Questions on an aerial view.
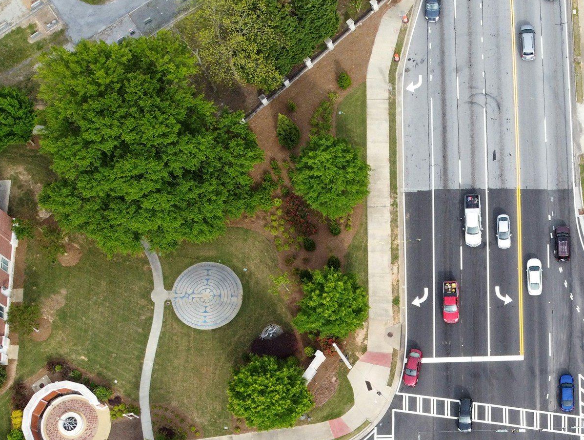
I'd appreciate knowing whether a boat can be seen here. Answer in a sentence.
No, there isn't any boat down there.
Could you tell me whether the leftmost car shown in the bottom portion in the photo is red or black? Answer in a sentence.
In this view, the leftmost car shown in the bottom portion is red.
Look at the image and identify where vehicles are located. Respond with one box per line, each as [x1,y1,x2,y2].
[495,213,512,249]
[518,24,538,61]
[402,347,423,388]
[441,280,460,323]
[455,397,474,432]
[526,258,545,296]
[558,374,577,411]
[462,192,483,247]
[423,0,442,23]
[555,223,573,261]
